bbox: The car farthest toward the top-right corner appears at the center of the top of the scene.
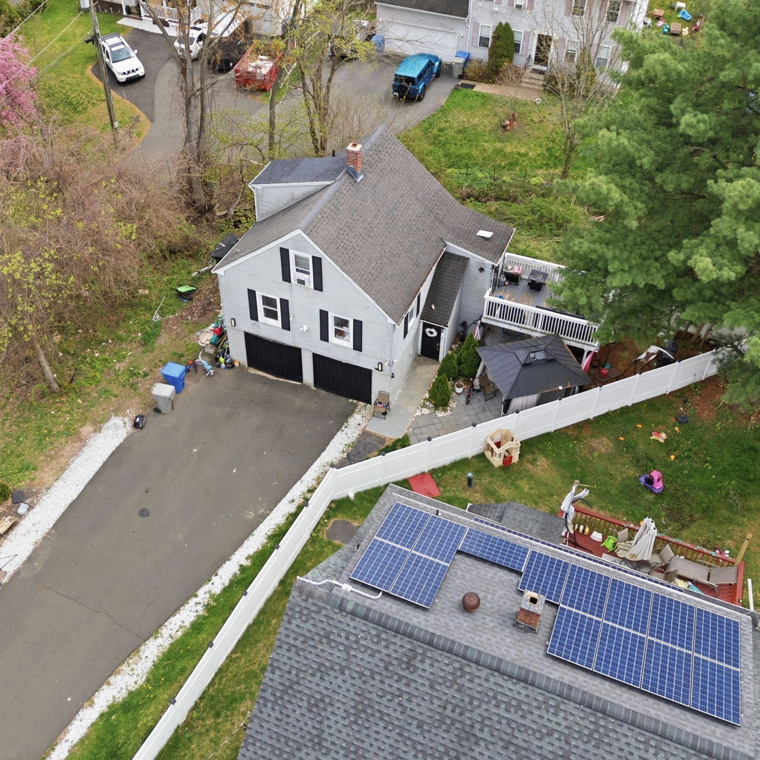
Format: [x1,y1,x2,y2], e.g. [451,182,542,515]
[396,49,446,92]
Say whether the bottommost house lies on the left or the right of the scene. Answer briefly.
right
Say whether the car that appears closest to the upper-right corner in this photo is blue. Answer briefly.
Yes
